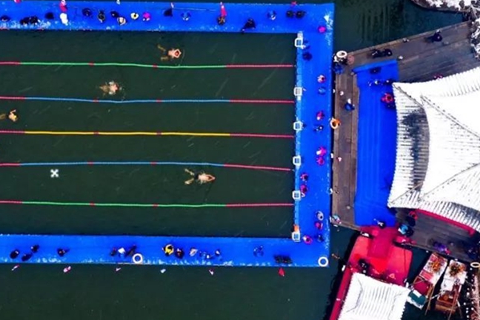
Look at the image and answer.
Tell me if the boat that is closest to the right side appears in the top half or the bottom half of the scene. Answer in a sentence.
It is in the bottom half that the boat that is closest to the right side appears.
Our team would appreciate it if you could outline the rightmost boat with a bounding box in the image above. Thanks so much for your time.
[434,257,467,320]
